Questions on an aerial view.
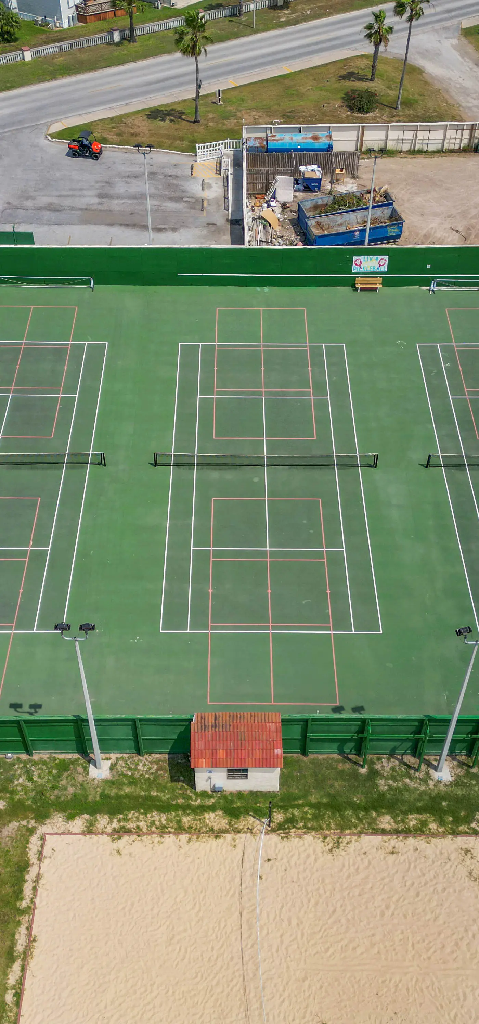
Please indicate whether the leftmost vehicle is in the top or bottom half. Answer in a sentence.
Seen from above, the leftmost vehicle lies in the top half of the view.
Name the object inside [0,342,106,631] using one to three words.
tennis court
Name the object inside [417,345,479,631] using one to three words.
tennis court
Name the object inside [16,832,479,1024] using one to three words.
sports court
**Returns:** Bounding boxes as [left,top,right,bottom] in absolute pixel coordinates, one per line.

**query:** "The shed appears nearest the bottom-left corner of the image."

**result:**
[191,712,283,794]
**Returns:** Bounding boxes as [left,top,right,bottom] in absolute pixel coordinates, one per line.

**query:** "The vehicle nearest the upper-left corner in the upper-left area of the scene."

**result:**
[66,131,106,160]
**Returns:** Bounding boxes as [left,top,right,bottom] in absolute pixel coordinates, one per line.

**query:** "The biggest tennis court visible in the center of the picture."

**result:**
[161,343,381,632]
